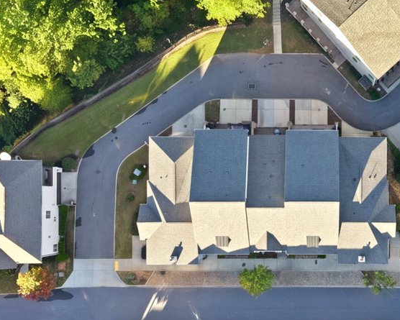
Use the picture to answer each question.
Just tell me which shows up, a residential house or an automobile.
residential house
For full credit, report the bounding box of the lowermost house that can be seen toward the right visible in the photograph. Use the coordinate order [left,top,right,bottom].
[136,118,396,264]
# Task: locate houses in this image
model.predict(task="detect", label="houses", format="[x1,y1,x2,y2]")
[136,118,396,264]
[302,0,400,90]
[0,159,72,269]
